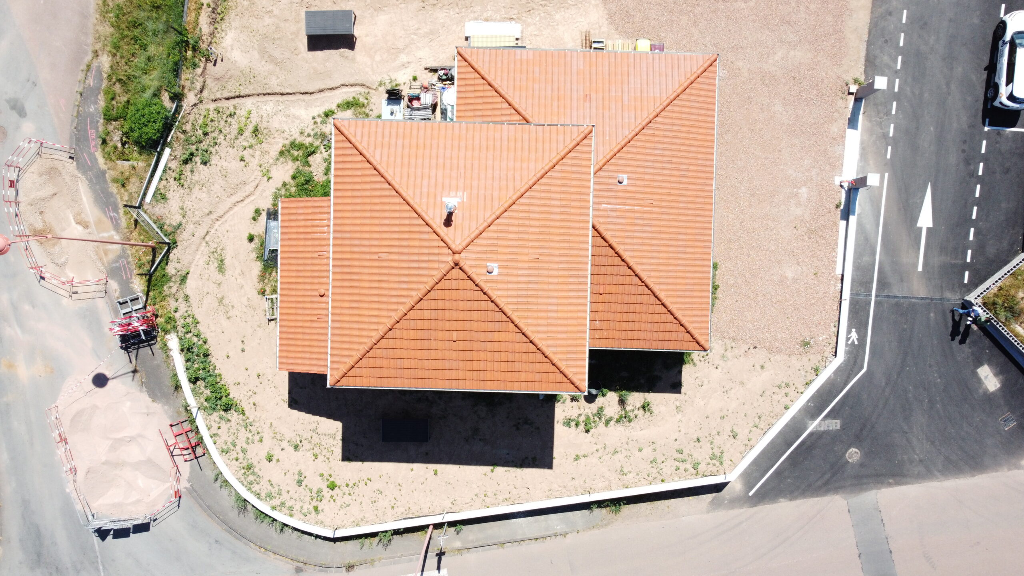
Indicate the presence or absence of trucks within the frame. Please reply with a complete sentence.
No, the frame has no truck in it.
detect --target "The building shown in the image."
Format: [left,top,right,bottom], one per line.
[275,46,721,394]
